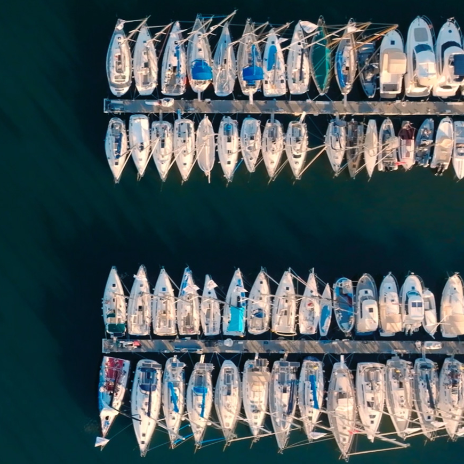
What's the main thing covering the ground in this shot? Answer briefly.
water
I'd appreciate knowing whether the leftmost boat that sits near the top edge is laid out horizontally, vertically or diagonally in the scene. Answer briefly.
vertically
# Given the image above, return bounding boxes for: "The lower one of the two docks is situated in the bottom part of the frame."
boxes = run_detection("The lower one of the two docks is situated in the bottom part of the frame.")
[102,338,464,354]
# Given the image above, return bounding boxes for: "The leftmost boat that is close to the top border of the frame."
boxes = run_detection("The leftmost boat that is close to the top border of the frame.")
[105,14,148,99]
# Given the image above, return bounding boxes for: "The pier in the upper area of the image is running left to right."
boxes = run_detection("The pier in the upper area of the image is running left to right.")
[103,99,464,115]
